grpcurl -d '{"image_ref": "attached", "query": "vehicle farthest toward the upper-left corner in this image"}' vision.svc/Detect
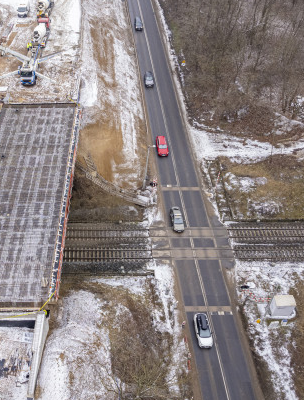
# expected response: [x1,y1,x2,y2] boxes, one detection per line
[14,0,27,17]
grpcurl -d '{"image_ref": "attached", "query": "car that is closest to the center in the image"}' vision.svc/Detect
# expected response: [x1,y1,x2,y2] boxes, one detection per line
[168,203,185,228]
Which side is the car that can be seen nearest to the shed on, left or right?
right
